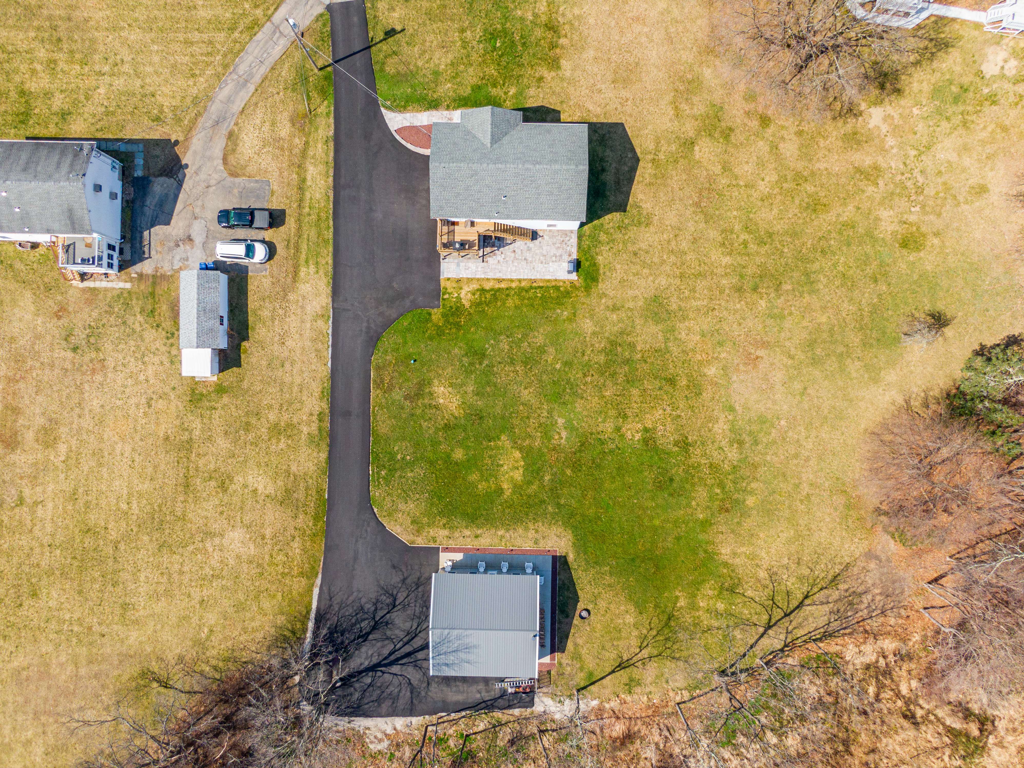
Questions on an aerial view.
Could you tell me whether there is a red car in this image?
No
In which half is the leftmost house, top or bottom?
top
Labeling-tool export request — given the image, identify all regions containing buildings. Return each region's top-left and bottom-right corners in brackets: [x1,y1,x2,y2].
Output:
[430,568,539,678]
[180,270,228,349]
[0,139,126,286]
[429,105,589,229]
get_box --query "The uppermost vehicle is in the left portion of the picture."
[217,206,276,232]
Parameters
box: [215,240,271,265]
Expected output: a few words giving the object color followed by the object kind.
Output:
white car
